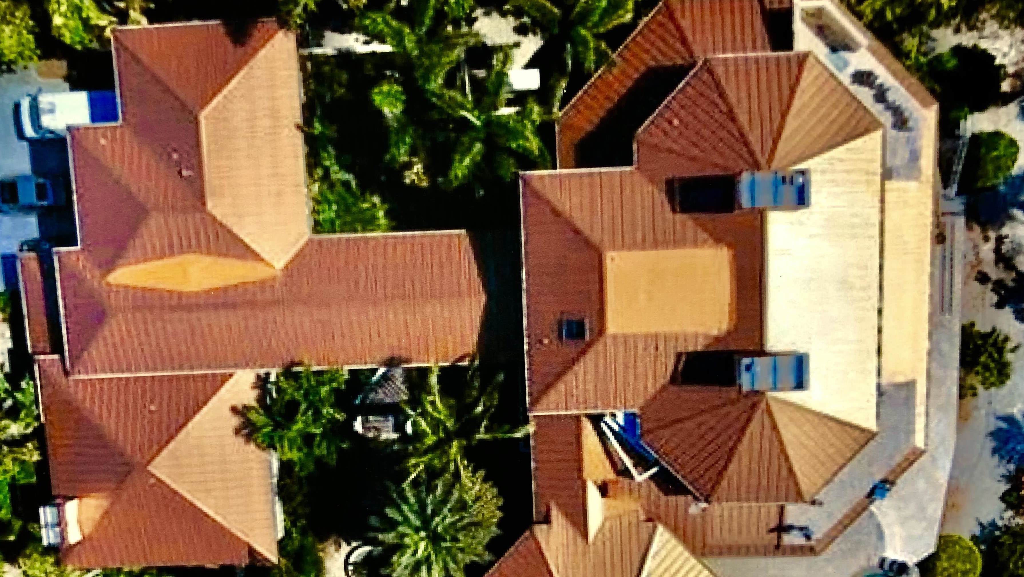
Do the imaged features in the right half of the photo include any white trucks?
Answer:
No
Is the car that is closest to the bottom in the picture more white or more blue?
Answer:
blue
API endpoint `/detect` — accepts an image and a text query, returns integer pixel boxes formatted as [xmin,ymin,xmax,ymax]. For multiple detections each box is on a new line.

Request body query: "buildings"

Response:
[17,18,516,377]
[482,0,938,577]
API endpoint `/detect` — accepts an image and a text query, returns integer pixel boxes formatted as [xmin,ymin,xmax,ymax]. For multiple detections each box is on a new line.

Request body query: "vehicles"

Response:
[0,174,53,208]
[17,91,118,142]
